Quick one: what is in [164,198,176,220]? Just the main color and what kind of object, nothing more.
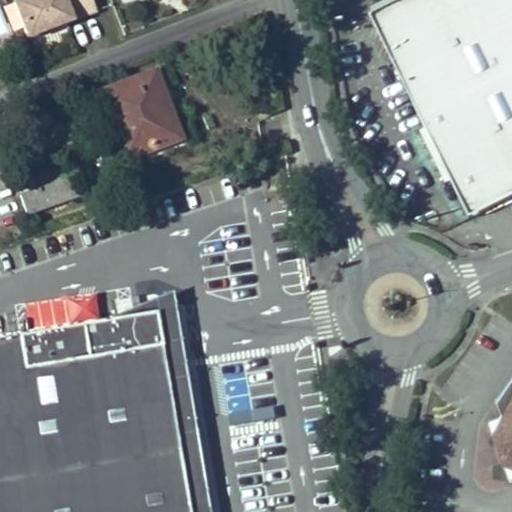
blue vehicle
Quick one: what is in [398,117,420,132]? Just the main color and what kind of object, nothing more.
white car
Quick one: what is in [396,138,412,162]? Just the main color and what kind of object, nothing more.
white car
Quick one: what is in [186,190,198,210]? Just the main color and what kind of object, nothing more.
white vehicle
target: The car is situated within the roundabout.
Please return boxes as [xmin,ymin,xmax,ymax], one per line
[425,274,440,296]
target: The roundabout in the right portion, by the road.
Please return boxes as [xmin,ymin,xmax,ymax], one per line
[334,241,460,367]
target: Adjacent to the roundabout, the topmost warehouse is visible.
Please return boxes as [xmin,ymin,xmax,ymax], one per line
[368,0,512,215]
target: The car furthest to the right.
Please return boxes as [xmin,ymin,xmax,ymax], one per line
[478,334,500,351]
